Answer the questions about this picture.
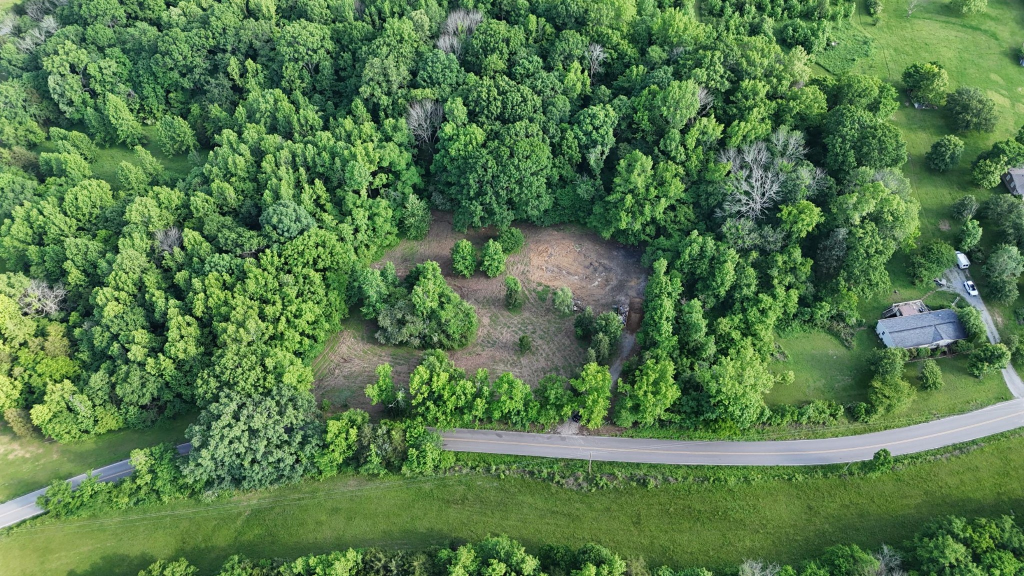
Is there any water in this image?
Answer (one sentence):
No, there is no water in the image.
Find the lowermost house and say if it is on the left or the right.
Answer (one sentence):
You can find the lowermost house on the right side of the picture.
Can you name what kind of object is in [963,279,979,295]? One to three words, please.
car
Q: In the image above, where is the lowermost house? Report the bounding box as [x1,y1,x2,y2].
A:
[876,308,968,360]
